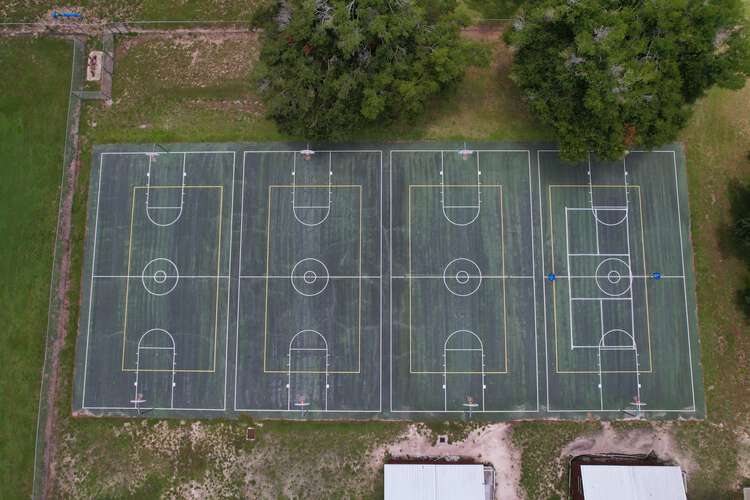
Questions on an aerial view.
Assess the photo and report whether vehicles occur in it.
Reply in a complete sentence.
No, there's no vehicle here.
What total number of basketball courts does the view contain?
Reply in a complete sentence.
Altogether the scene contains 4 basketball courts.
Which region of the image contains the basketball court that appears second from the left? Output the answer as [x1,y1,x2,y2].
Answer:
[231,149,385,412]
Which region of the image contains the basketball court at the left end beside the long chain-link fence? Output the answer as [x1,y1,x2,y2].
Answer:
[77,150,240,411]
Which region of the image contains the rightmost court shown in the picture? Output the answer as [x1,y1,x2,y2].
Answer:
[532,149,700,414]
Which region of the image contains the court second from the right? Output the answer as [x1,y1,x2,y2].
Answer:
[387,149,543,414]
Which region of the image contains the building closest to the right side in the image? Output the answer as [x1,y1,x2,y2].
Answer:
[567,453,683,500]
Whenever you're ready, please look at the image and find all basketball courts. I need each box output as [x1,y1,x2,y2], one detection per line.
[387,149,543,414]
[231,149,385,412]
[532,149,700,414]
[77,150,240,411]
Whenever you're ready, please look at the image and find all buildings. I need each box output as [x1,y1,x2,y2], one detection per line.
[567,453,683,500]
[385,456,494,500]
